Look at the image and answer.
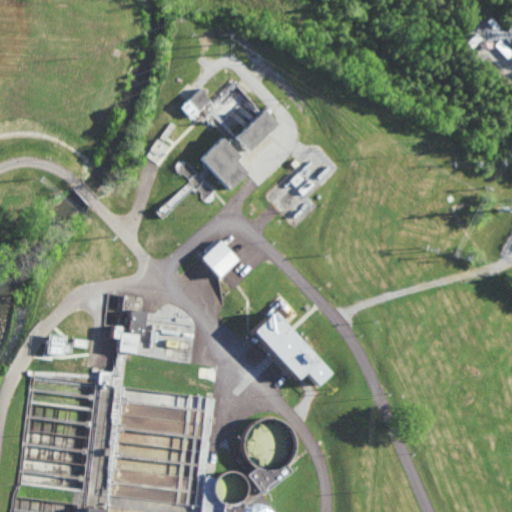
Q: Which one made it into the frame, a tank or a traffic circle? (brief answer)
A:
tank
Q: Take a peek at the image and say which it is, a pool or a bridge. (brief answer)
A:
bridge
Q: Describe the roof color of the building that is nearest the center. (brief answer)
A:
white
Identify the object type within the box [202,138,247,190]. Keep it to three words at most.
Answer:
building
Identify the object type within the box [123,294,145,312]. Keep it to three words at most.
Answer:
building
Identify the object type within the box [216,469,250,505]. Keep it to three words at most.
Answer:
storage tank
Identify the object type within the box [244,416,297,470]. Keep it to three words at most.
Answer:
storage tank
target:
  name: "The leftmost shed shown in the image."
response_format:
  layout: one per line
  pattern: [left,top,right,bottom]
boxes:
[46,334,74,356]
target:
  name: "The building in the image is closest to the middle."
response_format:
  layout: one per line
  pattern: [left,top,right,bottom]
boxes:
[203,240,240,280]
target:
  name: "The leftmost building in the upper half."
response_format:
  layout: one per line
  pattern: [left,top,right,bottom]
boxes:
[182,89,210,122]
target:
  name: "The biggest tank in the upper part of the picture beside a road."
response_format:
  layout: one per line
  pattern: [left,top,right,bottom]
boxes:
[157,162,226,220]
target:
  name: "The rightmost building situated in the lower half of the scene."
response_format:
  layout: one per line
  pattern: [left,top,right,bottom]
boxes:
[256,311,334,386]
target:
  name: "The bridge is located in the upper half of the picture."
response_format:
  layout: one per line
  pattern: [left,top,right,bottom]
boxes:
[65,176,105,216]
